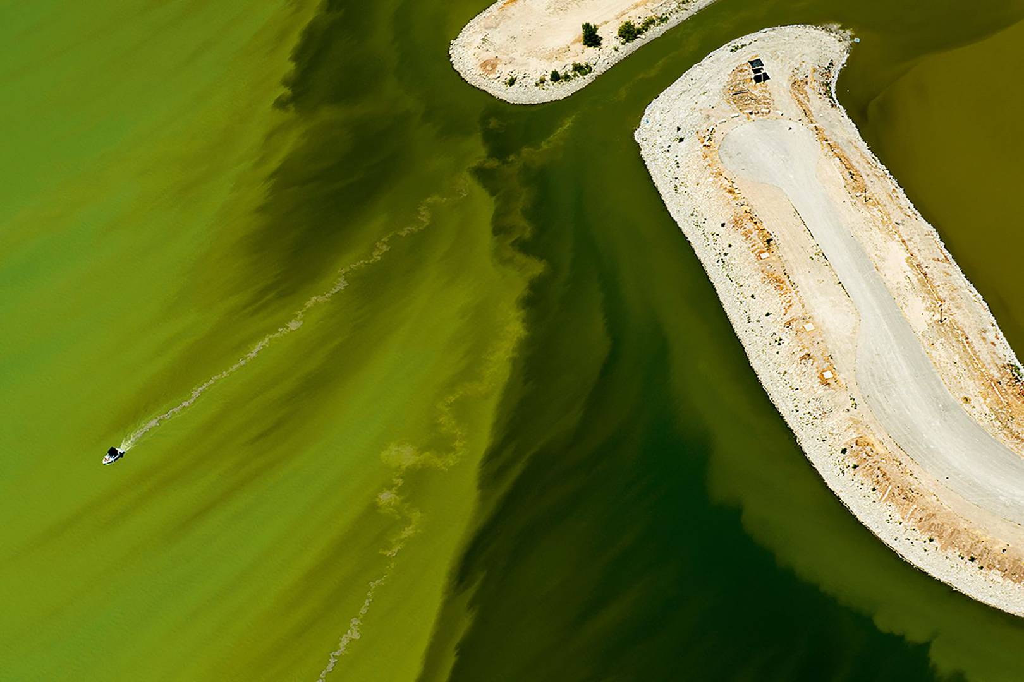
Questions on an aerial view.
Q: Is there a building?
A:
No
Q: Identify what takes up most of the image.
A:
water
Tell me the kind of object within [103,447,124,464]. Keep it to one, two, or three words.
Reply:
boat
